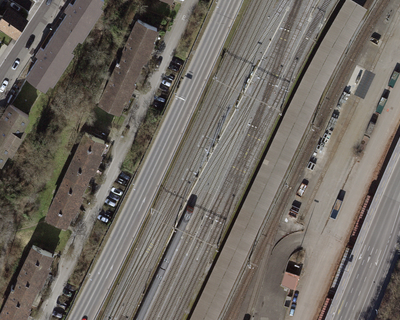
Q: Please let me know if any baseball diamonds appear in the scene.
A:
No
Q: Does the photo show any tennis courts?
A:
No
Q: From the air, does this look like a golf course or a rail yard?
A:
rail yard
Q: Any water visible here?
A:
No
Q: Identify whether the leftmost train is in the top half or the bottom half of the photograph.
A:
bottom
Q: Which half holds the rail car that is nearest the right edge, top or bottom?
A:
bottom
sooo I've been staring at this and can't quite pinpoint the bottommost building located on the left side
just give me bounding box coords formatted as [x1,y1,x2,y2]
[0,244,52,320]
